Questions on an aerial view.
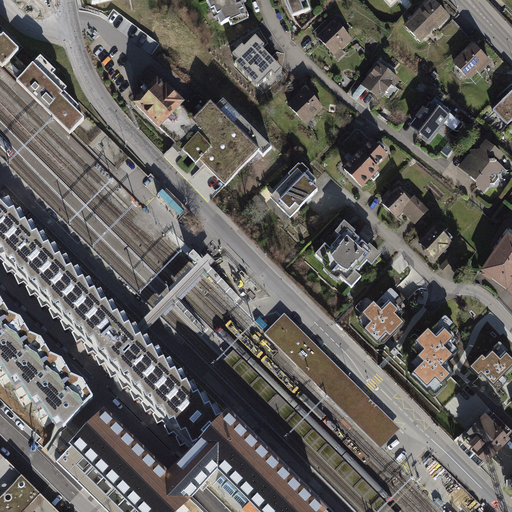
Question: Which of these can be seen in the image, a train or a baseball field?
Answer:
train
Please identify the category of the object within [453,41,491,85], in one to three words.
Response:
house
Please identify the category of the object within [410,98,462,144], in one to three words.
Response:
house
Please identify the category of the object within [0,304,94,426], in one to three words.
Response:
building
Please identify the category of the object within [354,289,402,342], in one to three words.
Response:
building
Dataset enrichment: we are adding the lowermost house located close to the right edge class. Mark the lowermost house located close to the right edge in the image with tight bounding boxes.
[452,412,512,468]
